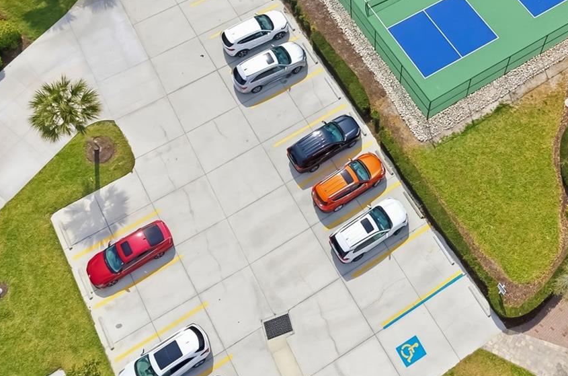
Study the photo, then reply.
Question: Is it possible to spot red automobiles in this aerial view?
Yes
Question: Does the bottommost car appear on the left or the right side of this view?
left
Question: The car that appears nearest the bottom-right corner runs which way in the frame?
diagonally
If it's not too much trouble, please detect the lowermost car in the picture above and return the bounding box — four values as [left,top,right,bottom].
[122,328,211,376]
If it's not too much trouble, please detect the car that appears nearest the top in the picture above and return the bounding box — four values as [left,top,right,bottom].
[222,13,290,59]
